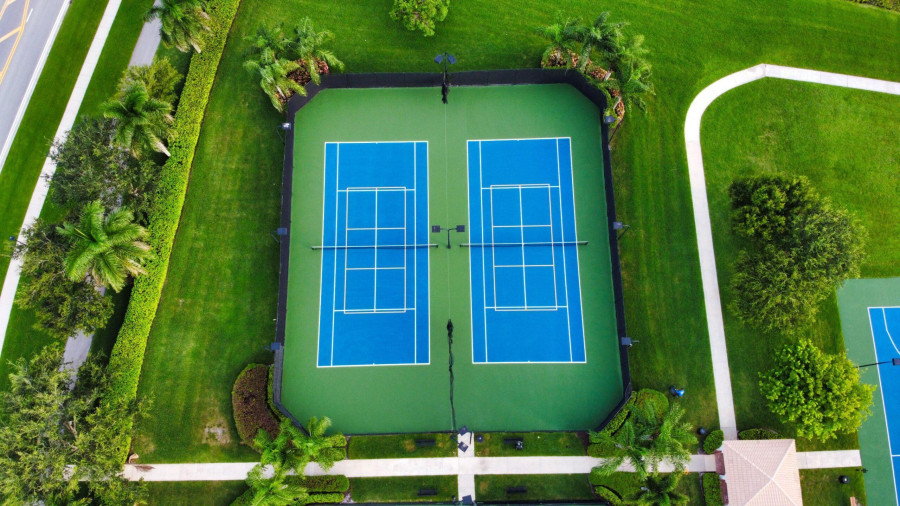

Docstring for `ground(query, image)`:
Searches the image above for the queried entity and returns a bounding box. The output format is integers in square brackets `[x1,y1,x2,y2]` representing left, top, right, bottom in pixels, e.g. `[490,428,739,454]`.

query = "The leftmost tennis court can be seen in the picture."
[280,86,452,435]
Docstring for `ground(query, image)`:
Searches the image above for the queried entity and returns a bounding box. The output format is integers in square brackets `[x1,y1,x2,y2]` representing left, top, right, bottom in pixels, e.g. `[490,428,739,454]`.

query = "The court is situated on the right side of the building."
[836,278,900,506]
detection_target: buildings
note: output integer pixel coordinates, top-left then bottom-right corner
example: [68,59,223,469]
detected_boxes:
[715,437,805,506]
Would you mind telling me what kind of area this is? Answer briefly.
sports ground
